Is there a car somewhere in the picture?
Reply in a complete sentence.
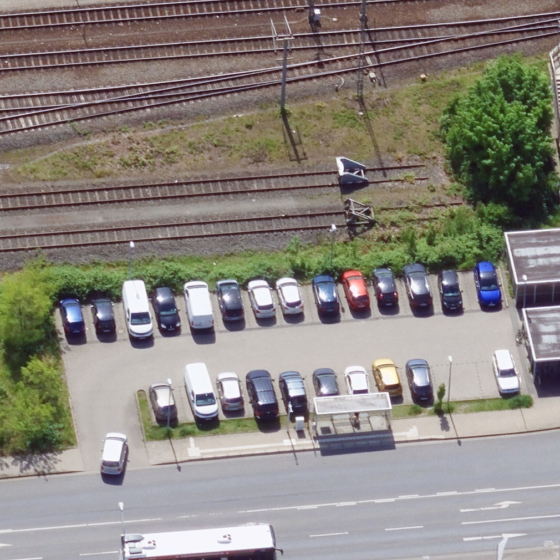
Yes, the picture does show a car.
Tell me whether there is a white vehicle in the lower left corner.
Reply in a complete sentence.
Yes, a white vehicle is visible in the lower left corner.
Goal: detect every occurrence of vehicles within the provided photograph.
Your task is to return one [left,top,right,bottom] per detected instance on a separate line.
[183,285,214,332]
[404,262,434,308]
[309,272,340,316]
[281,369,309,415]
[250,370,281,419]
[90,294,116,333]
[312,367,340,398]
[371,268,399,307]
[58,295,85,334]
[343,268,371,310]
[153,285,183,330]
[276,276,304,315]
[405,357,435,403]
[344,366,373,396]
[215,279,244,322]
[247,278,276,319]
[436,266,465,310]
[121,278,155,339]
[186,359,221,421]
[149,379,179,421]
[492,343,521,393]
[474,261,503,307]
[120,523,288,560]
[215,371,245,411]
[102,432,133,478]
[375,356,404,397]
